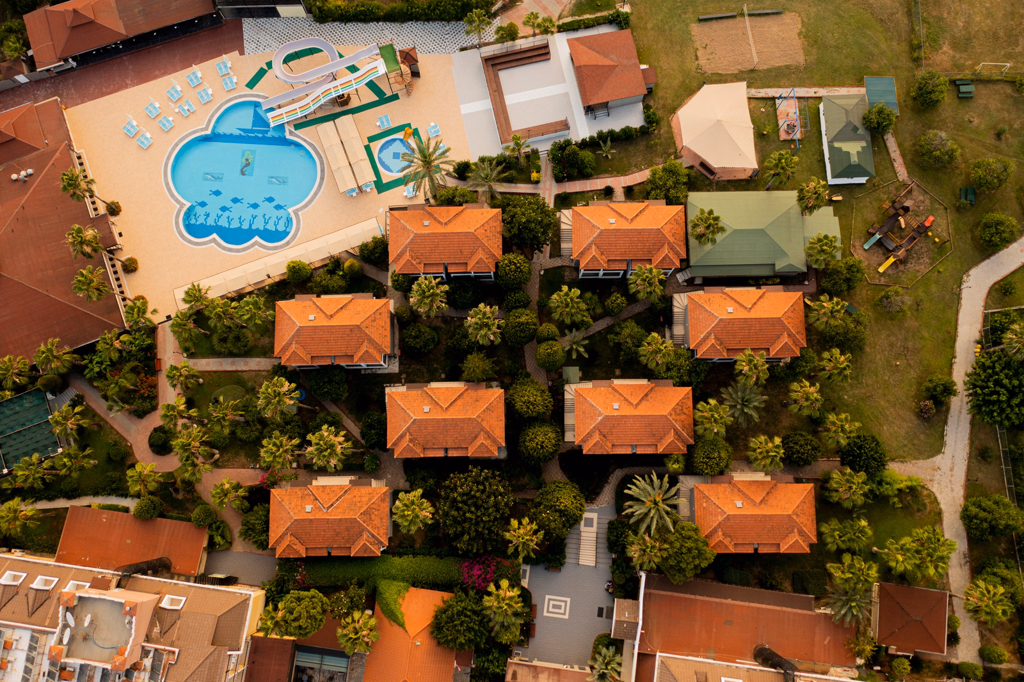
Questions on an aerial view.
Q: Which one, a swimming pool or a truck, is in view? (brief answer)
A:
swimming pool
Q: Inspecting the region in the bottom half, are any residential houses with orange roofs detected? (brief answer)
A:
Yes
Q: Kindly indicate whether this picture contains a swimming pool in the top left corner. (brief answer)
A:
Yes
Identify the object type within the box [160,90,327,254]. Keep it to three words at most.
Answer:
swimming pool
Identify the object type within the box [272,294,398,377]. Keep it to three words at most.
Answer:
house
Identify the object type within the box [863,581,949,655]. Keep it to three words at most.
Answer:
building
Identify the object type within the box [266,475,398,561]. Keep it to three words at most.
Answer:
house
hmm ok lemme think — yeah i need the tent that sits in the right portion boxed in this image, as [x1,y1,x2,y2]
[666,81,759,183]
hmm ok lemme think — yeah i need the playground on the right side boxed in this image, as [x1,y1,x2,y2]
[861,181,950,273]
